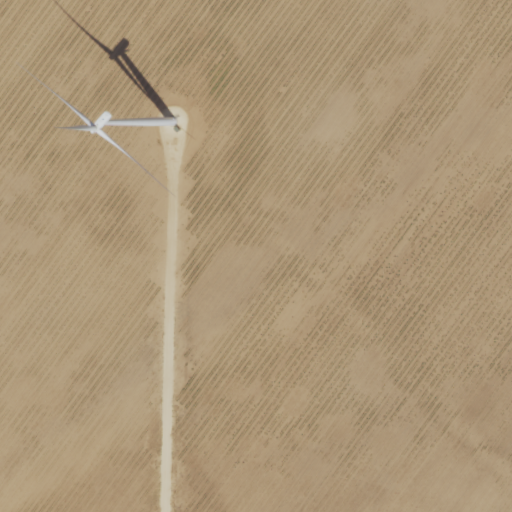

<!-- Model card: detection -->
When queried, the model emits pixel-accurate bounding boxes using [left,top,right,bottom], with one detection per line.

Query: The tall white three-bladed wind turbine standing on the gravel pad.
[26,66,182,194]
